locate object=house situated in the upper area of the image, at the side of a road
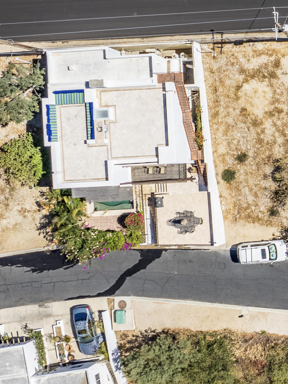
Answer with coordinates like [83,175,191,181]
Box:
[41,47,208,203]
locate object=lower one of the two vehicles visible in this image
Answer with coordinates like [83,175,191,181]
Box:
[74,305,102,354]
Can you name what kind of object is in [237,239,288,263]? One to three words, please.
car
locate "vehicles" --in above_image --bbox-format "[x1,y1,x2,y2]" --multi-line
[74,305,102,354]
[237,239,288,263]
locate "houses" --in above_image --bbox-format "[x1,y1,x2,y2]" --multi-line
[0,319,118,384]
[41,47,208,203]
